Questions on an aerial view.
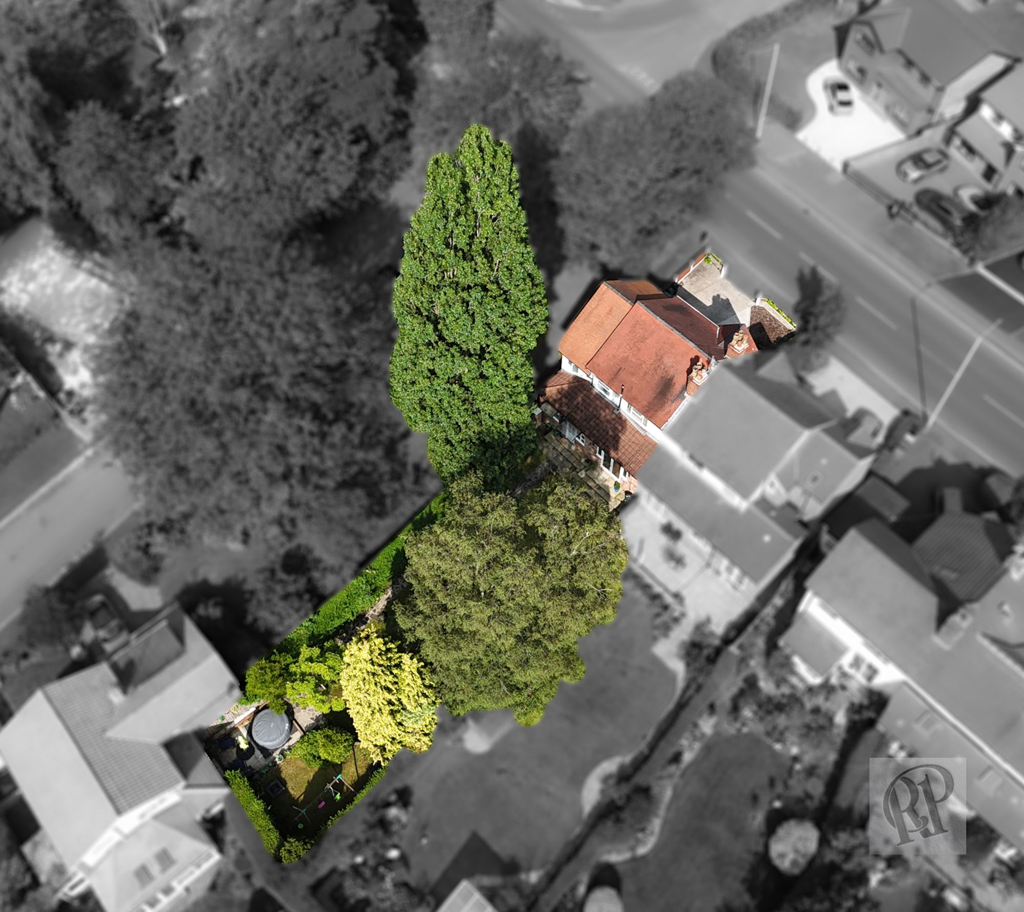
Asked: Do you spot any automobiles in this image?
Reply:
Yes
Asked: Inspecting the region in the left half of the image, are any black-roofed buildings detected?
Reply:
No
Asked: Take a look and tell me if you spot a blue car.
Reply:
No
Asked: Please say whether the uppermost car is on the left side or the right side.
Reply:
right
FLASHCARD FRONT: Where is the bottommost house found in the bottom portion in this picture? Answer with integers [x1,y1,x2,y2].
[428,877,491,912]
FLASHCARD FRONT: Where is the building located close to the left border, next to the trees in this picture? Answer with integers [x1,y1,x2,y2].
[0,605,247,912]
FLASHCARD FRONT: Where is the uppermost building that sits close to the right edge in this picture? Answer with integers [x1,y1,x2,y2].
[835,0,1022,134]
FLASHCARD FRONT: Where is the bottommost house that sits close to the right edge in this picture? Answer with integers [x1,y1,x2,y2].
[770,511,1024,885]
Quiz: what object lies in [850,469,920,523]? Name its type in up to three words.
shed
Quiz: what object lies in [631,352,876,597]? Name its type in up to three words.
house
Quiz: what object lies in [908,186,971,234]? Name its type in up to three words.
car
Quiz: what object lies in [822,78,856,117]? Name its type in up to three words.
car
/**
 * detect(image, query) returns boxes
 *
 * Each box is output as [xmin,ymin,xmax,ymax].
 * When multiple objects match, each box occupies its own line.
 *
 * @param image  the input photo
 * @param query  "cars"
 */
[822,78,856,117]
[908,186,971,234]
[72,582,140,652]
[896,143,953,184]
[847,400,891,448]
